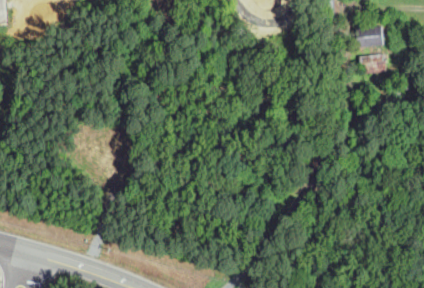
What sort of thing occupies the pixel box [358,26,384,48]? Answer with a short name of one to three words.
building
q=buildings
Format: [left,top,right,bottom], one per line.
[360,54,387,73]
[358,26,384,48]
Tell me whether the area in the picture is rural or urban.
rural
